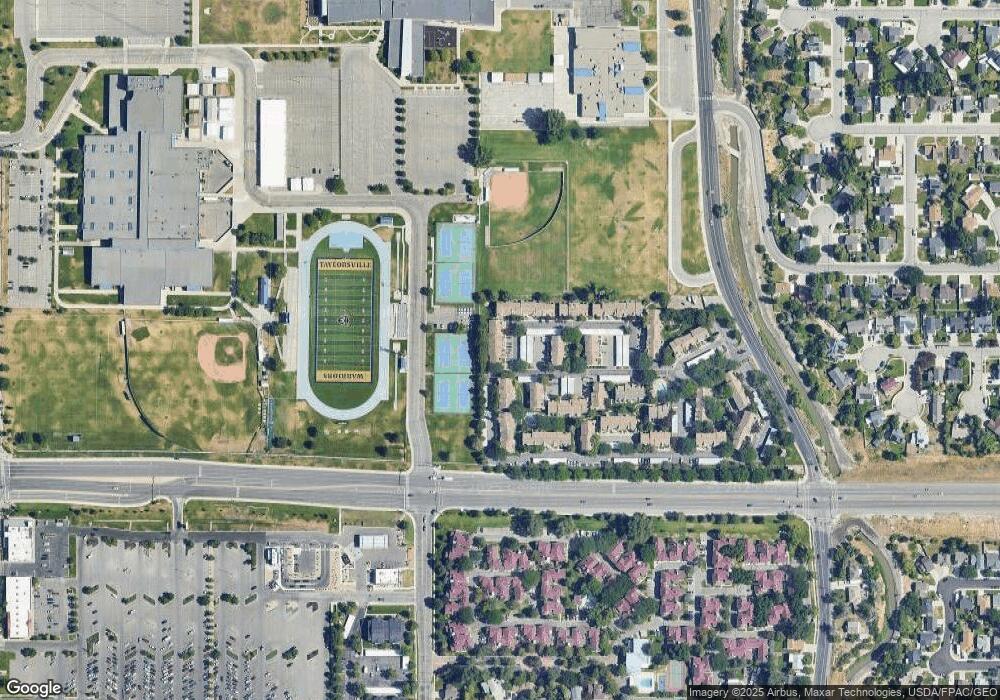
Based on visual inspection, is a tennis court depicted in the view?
Yes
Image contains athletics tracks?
Yes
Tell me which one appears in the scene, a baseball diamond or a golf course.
baseball diamond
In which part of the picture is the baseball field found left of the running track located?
left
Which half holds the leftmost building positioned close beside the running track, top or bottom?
top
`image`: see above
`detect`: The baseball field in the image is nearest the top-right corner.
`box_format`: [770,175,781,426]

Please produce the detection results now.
[491,173,528,213]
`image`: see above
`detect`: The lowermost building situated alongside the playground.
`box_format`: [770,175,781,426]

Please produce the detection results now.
[388,19,424,77]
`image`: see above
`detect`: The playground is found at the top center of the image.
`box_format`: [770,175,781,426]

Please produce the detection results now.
[424,26,456,47]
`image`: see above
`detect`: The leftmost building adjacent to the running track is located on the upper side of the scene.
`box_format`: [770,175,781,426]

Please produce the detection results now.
[83,75,213,306]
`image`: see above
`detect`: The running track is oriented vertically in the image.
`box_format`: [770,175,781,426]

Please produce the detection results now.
[296,222,393,420]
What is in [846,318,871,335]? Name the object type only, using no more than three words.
house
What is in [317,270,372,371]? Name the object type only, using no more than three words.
sports field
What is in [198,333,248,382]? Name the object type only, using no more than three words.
baseball field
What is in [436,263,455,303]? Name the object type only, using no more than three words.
tennis court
